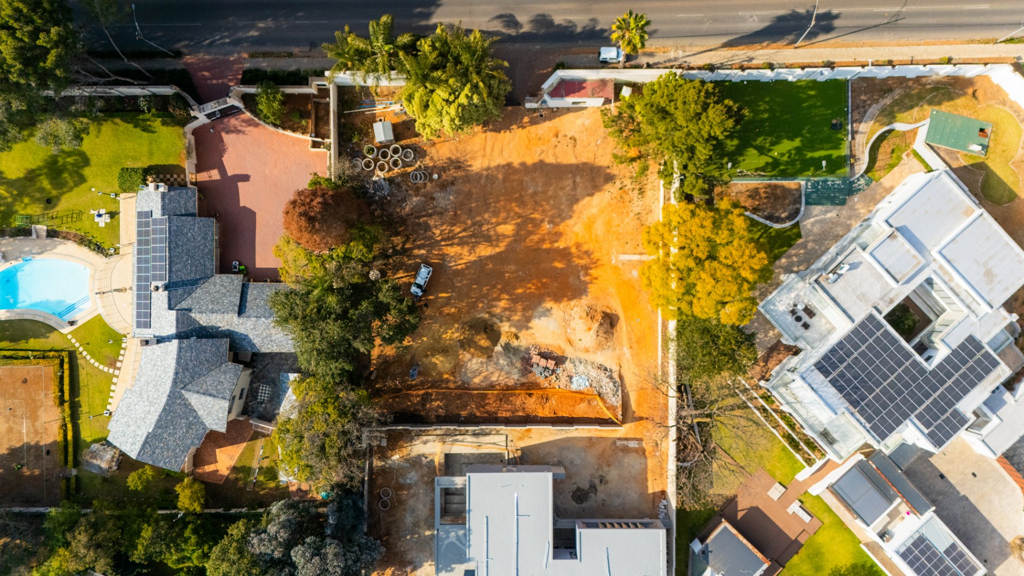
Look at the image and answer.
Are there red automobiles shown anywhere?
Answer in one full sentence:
No, no red automobile can be seen from above.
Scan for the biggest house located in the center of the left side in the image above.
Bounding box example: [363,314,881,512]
[107,183,301,472]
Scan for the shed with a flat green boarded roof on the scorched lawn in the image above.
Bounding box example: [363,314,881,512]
[923,110,992,157]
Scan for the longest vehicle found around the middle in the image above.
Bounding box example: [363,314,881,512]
[410,262,434,298]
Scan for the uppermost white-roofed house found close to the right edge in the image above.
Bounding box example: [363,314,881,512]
[752,170,1024,461]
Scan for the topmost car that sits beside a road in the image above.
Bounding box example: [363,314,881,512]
[597,46,625,62]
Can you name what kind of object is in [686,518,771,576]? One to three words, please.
building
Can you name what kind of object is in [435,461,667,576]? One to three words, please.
house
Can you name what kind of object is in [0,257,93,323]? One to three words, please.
swimming pool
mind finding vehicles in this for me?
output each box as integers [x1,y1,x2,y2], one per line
[410,262,434,298]
[597,46,625,62]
